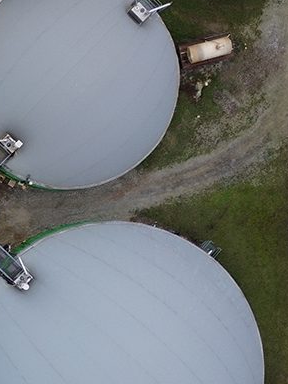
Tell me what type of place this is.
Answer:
industrial area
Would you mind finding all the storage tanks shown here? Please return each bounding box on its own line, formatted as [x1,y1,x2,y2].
[175,34,234,71]
[0,0,180,190]
[0,218,265,384]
